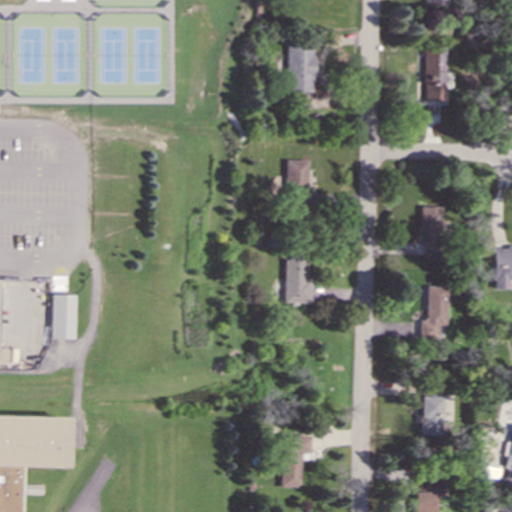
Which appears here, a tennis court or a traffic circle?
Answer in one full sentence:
I can see a tennis court in this picture.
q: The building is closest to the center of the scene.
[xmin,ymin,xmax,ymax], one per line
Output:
[286,260,316,304]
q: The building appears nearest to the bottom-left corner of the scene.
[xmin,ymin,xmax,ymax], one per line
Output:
[0,416,76,512]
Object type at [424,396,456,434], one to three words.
house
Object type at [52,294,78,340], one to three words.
shed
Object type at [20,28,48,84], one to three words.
tennis court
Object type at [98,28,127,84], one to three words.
tennis court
